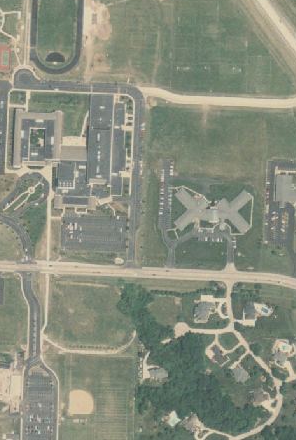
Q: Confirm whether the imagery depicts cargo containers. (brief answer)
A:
No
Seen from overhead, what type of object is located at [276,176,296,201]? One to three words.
building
